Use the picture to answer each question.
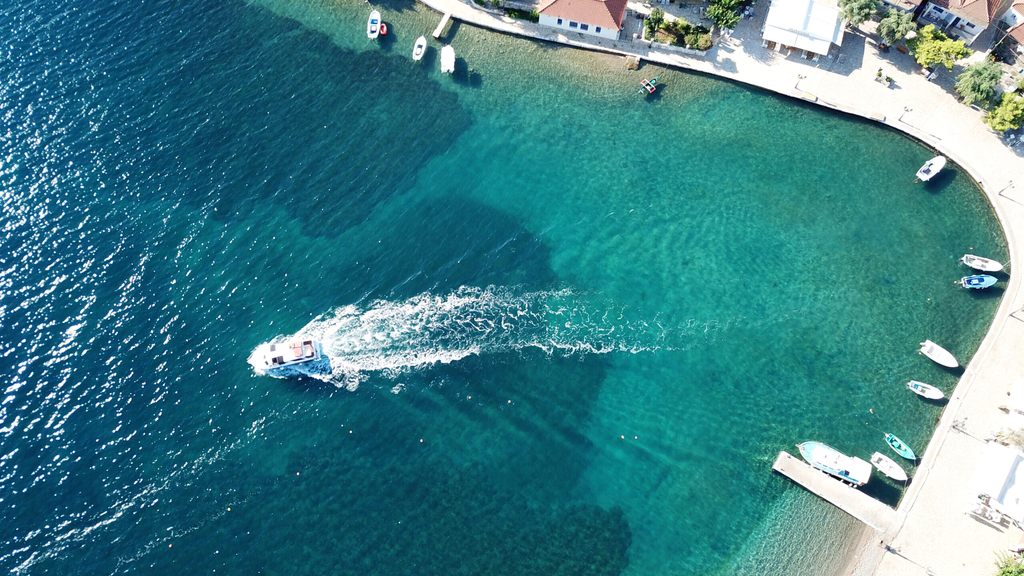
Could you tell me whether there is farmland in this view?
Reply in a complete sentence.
No, the scene doesn't show any farmland.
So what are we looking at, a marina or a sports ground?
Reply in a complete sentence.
This looks like a marina.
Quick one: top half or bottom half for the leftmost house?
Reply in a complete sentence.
The leftmost house sits in the top half of the picture.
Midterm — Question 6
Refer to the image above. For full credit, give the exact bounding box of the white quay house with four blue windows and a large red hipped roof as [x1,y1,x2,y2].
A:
[535,0,635,40]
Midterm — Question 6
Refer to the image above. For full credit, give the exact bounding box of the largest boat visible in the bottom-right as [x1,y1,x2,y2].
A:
[792,441,876,490]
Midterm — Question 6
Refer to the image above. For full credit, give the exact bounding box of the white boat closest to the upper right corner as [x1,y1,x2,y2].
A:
[915,150,946,184]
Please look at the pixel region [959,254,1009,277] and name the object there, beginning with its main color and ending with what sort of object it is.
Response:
white boat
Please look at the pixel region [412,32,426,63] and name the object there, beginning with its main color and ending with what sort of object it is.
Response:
white boat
